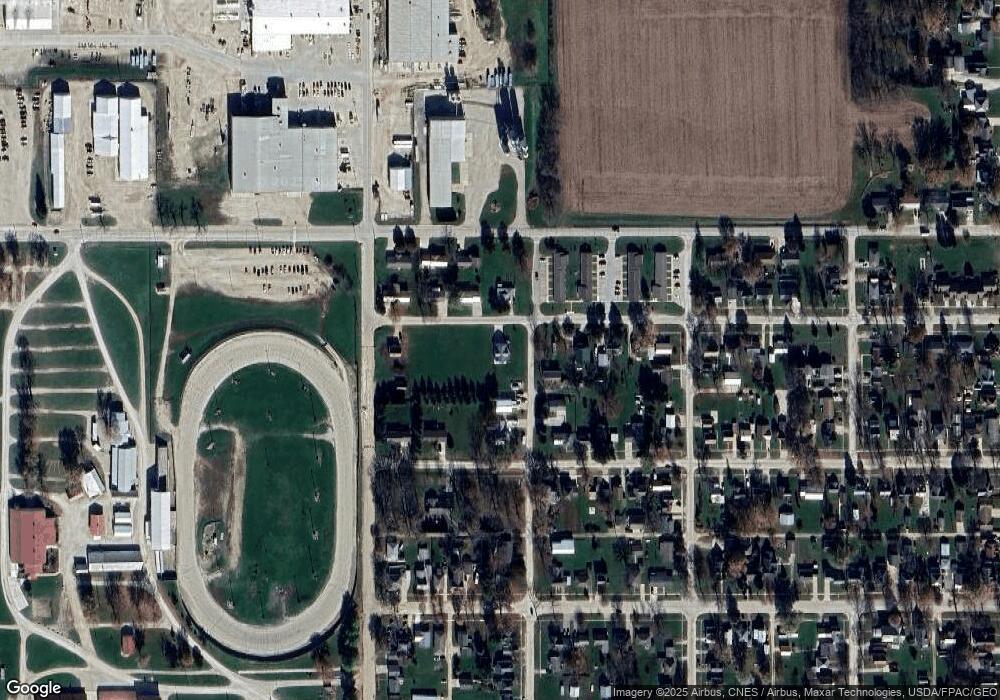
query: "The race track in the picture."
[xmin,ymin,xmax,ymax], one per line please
[175,326,360,662]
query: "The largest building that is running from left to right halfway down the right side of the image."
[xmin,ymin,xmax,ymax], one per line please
[935,271,999,296]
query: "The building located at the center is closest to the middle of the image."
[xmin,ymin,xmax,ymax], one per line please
[493,345,512,364]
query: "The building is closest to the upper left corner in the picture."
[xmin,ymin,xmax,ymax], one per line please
[4,0,52,29]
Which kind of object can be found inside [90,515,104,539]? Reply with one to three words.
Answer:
barn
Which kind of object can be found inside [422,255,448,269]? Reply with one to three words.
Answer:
house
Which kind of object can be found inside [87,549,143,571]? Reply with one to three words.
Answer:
building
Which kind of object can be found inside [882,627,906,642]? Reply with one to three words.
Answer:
house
